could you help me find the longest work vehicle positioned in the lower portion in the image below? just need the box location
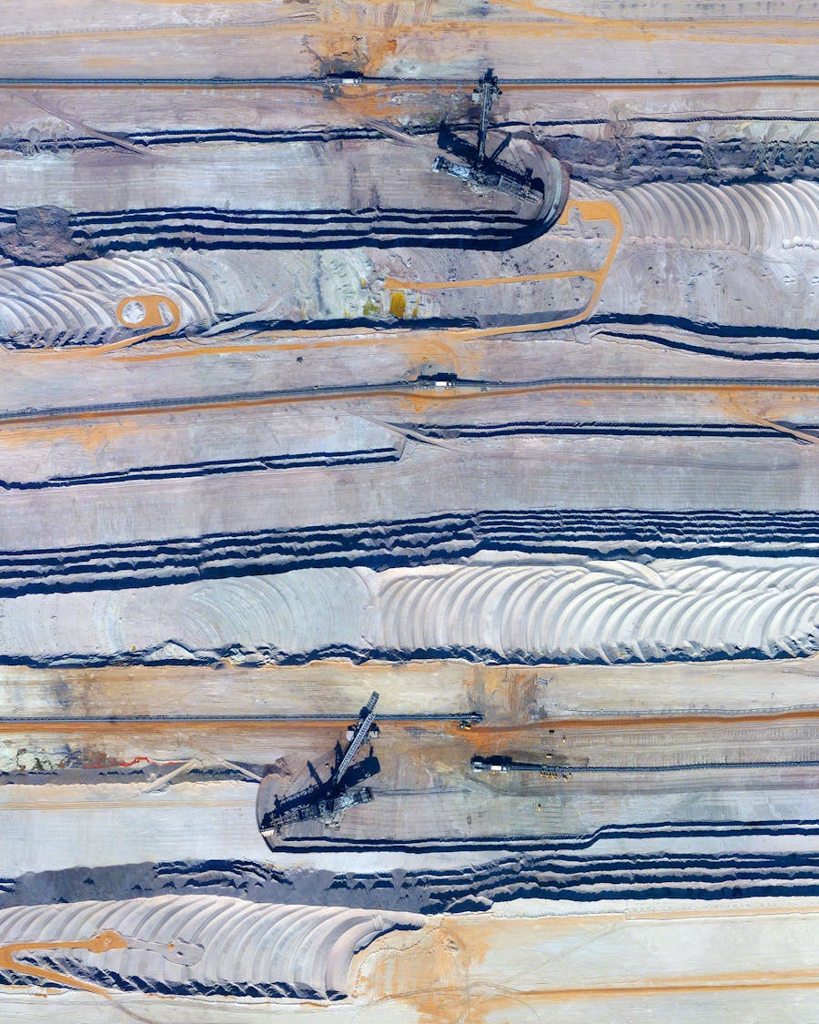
[255,719,375,836]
